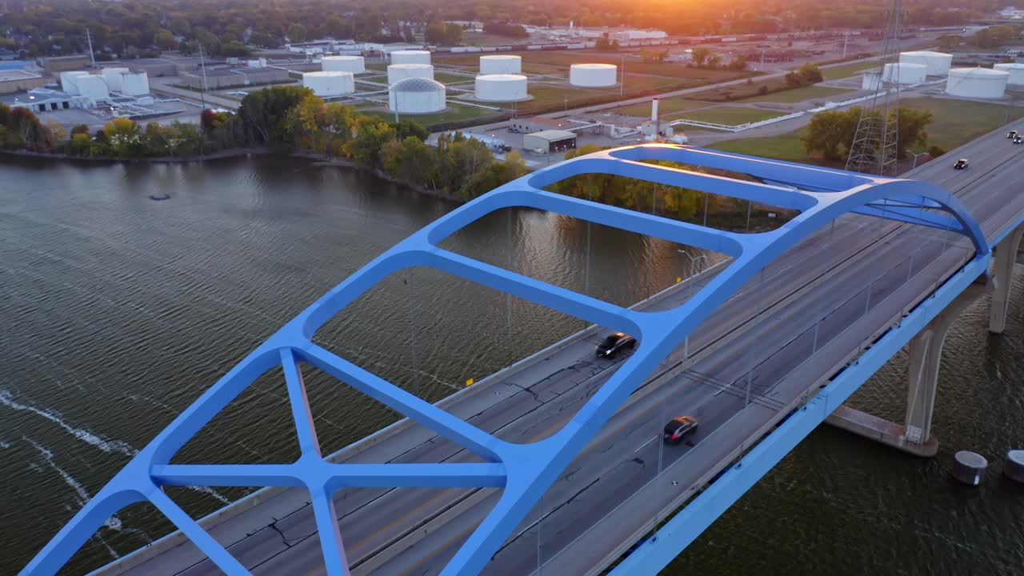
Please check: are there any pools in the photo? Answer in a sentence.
No, no pool is visible in the scene.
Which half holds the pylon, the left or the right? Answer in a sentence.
The pylon is on the right side of the image.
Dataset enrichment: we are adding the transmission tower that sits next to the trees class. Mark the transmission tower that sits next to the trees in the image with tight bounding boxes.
[847,0,923,177]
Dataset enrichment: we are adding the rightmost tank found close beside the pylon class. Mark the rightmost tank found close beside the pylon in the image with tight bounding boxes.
[937,64,1020,99]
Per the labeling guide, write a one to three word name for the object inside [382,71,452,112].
storage tank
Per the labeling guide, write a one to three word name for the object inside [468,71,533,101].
storage tank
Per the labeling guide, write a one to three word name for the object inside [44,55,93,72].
building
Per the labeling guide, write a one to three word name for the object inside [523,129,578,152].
building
